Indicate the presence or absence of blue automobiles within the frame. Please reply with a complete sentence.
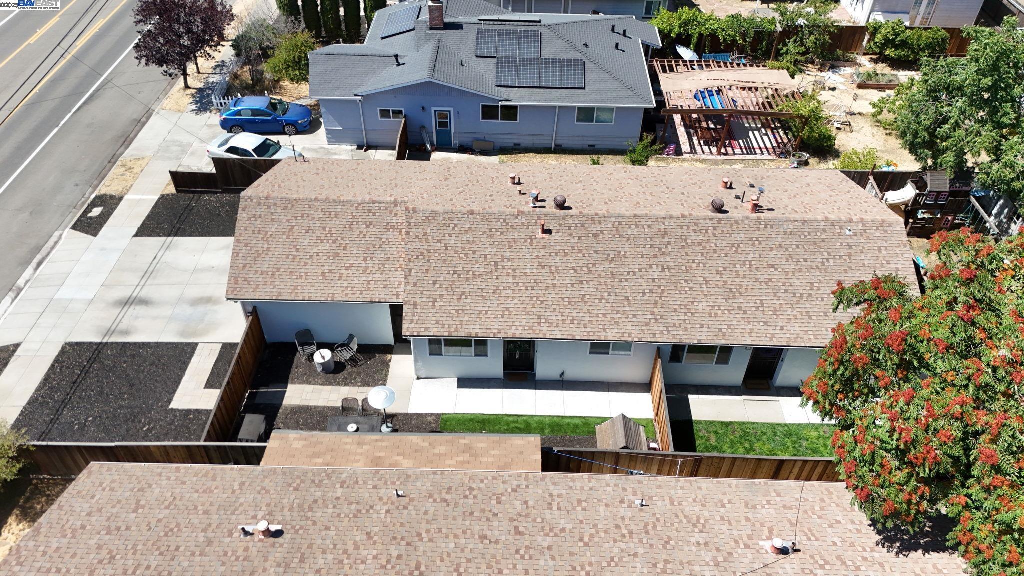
Yes, you can see a blue automobile in this photo.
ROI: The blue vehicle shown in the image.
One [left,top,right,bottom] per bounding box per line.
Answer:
[217,91,313,132]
